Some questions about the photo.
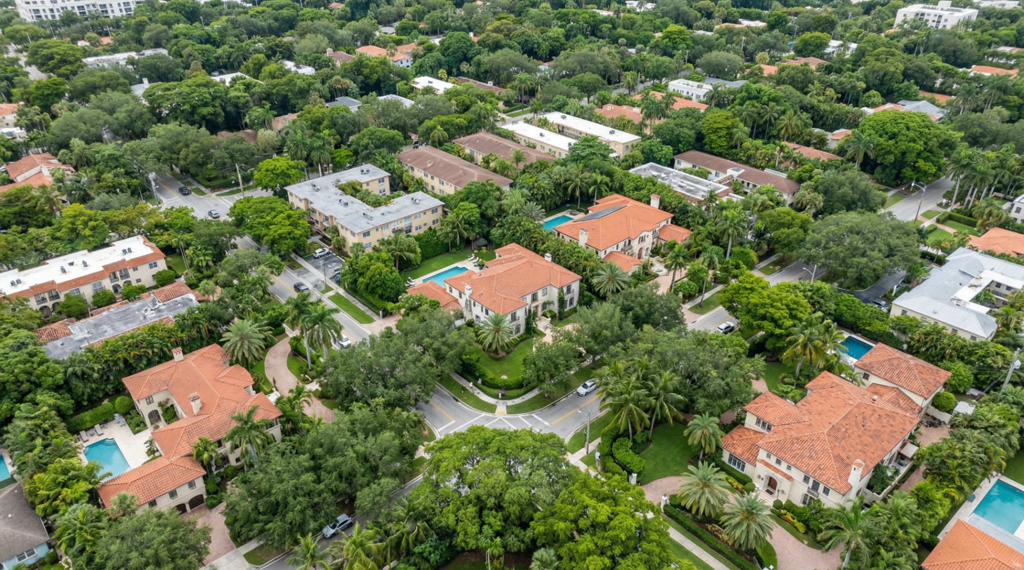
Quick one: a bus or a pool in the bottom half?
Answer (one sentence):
There is a pool in the bottom half.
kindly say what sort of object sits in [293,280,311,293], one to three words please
vehicle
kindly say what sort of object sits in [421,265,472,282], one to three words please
swimming pool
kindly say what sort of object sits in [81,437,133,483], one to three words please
swimming pool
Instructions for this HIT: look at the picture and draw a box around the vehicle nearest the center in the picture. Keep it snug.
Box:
[577,376,604,395]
